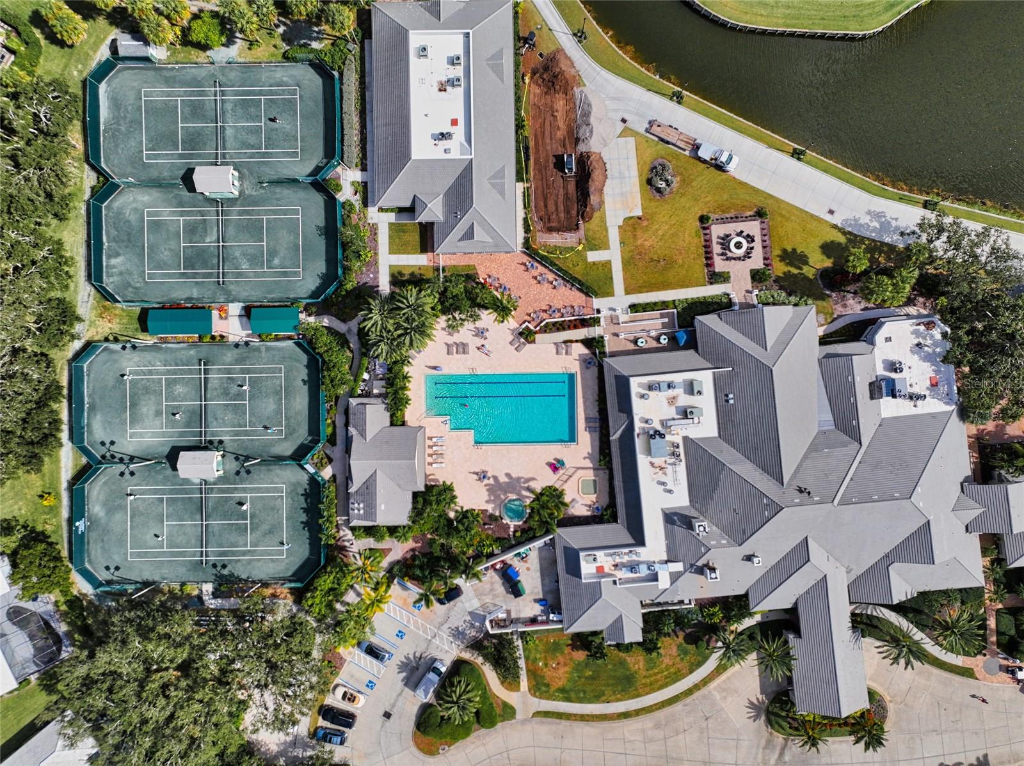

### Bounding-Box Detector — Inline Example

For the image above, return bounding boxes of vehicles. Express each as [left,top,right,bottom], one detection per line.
[315,725,347,747]
[359,640,392,666]
[522,28,536,59]
[413,660,445,701]
[1010,668,1024,681]
[334,685,366,709]
[436,582,465,607]
[696,139,741,169]
[322,705,356,729]
[562,154,576,179]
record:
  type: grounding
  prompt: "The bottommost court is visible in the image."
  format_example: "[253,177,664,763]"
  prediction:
[87,463,321,585]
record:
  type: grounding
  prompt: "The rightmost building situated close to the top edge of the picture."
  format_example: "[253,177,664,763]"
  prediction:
[371,0,517,255]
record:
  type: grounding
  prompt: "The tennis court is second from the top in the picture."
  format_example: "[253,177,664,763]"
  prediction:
[103,182,336,302]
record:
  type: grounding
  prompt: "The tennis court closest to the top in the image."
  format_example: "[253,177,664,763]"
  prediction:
[101,64,335,183]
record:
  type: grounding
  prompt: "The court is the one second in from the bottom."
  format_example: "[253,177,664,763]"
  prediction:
[85,342,320,463]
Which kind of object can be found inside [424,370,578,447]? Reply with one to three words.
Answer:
swimming pool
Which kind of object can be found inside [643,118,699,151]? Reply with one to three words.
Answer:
trailer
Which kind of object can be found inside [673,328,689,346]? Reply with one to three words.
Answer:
umbrella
